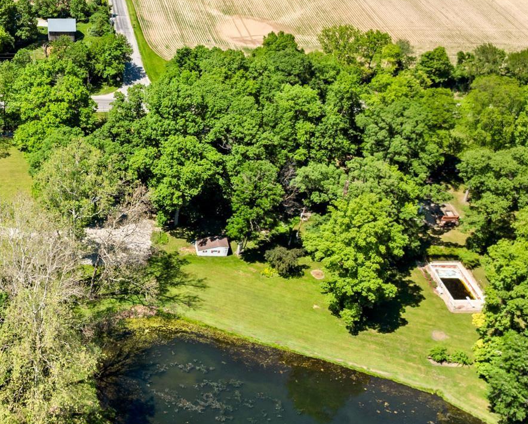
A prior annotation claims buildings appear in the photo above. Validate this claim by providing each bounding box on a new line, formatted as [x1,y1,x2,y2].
[48,18,76,41]
[195,234,231,256]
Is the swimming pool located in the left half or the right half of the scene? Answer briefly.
right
